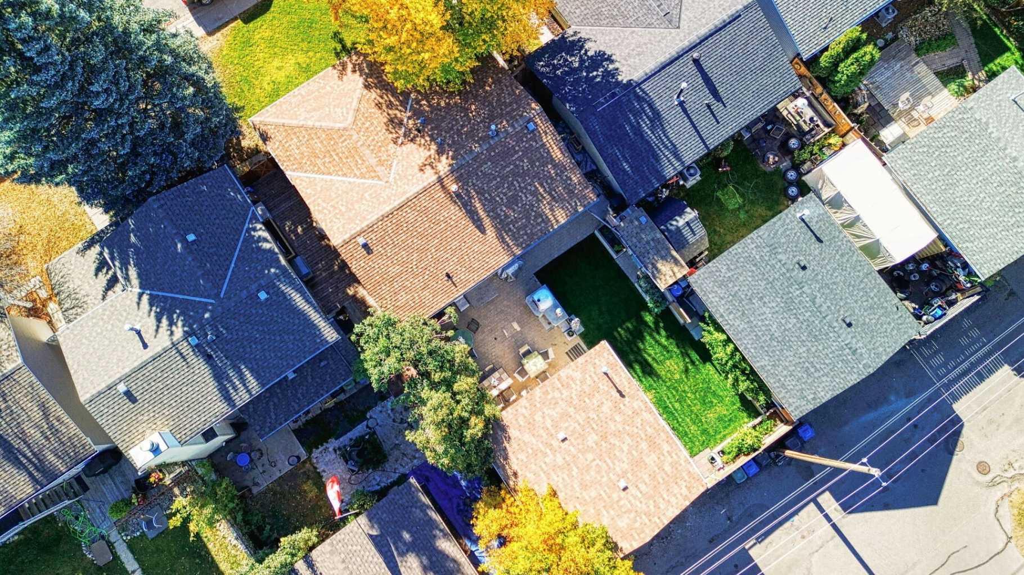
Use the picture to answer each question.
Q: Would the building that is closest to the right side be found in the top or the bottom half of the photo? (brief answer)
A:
top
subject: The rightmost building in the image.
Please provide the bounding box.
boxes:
[881,64,1024,282]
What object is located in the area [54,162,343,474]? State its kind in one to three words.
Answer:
house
